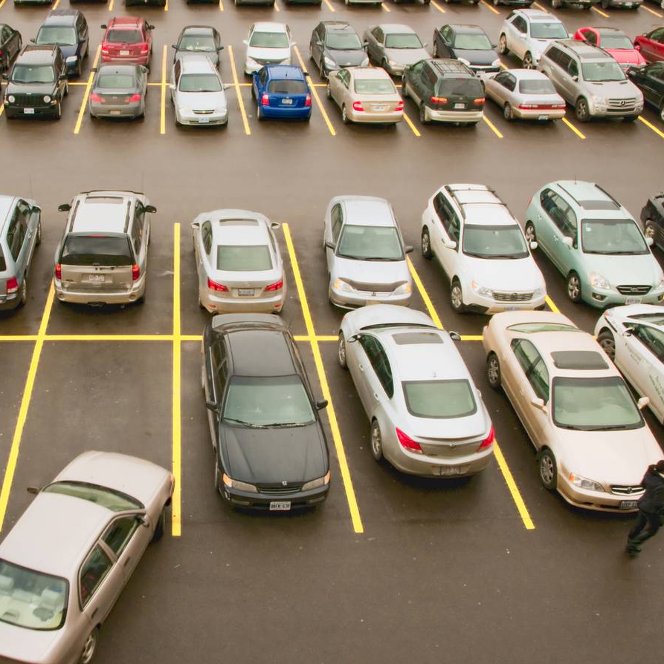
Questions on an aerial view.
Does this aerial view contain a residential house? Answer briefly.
No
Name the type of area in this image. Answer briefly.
parking lot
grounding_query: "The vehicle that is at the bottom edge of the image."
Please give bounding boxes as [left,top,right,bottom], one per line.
[0,454,175,664]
